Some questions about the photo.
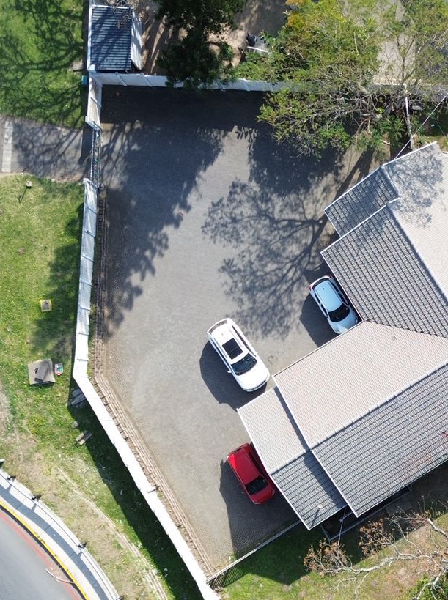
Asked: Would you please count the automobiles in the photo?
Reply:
3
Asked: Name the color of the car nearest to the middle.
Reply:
white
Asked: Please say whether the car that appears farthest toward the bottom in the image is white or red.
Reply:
red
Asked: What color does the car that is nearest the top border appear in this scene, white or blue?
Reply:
blue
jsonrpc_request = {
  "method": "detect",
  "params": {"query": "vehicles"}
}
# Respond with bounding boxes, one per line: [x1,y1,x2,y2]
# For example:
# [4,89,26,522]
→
[210,319,268,393]
[307,274,356,334]
[225,442,274,503]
